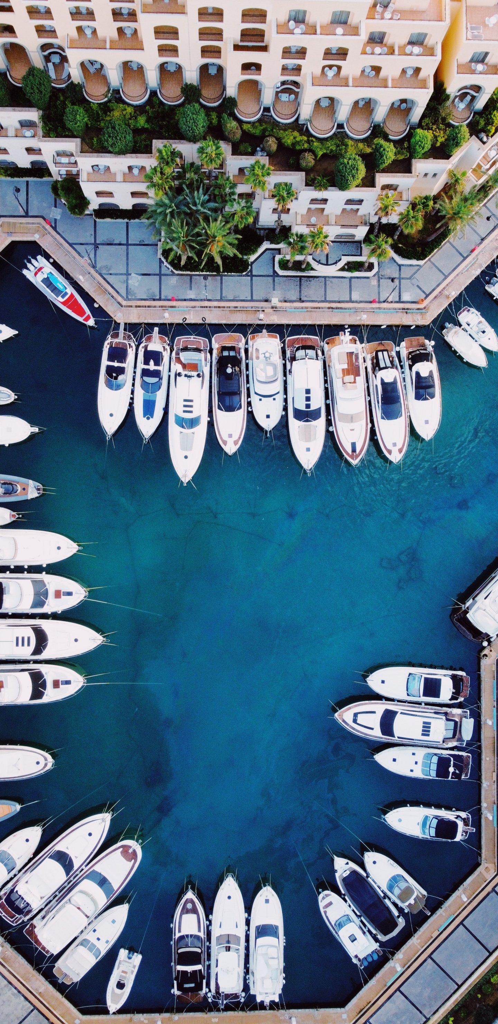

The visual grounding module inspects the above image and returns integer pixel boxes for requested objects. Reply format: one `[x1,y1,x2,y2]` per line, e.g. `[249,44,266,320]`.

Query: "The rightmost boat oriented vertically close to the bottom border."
[250,882,285,1008]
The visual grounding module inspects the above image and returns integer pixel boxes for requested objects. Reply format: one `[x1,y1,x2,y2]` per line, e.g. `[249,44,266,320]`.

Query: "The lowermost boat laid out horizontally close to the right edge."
[381,803,476,842]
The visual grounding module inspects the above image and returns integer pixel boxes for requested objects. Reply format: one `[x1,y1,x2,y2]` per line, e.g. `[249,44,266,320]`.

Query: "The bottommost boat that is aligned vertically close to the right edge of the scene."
[463,709,476,747]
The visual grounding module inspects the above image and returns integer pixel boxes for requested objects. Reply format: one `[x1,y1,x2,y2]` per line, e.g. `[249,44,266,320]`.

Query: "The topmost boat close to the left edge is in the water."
[19,251,97,327]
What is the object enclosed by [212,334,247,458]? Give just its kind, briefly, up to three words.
boat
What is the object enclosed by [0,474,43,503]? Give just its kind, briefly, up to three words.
boat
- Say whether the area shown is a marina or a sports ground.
marina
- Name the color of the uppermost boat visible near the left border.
white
